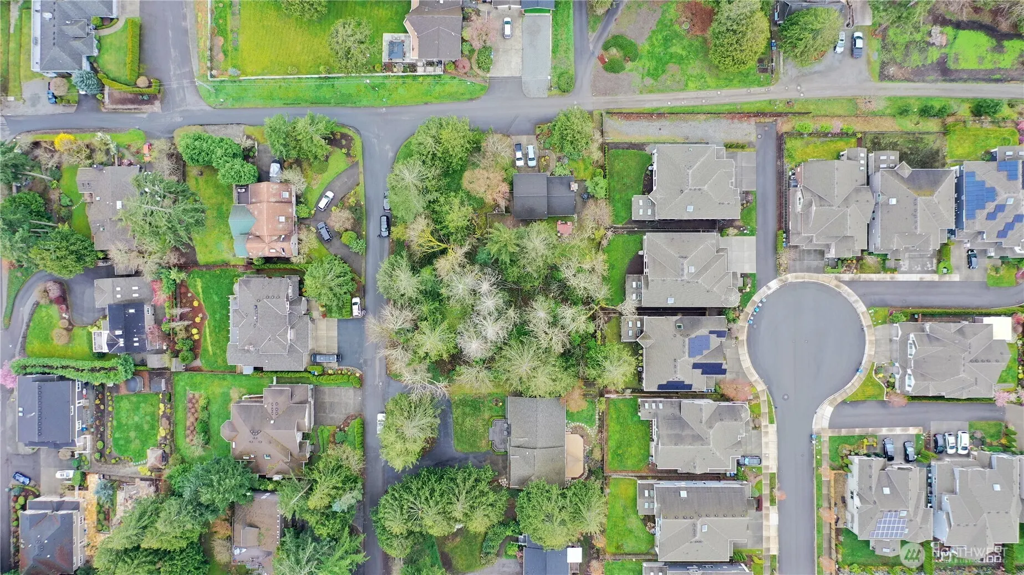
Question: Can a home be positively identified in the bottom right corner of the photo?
Yes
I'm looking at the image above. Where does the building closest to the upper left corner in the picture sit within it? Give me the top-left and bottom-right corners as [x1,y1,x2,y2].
[31,0,125,76]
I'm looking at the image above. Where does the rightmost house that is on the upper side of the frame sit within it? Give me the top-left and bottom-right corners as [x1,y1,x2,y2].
[949,146,1024,258]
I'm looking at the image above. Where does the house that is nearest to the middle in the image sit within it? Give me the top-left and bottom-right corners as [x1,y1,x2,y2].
[513,173,575,220]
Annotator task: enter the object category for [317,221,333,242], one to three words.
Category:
car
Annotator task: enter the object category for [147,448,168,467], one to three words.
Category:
gazebo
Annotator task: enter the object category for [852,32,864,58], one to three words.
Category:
vehicle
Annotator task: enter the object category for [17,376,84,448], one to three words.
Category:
house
